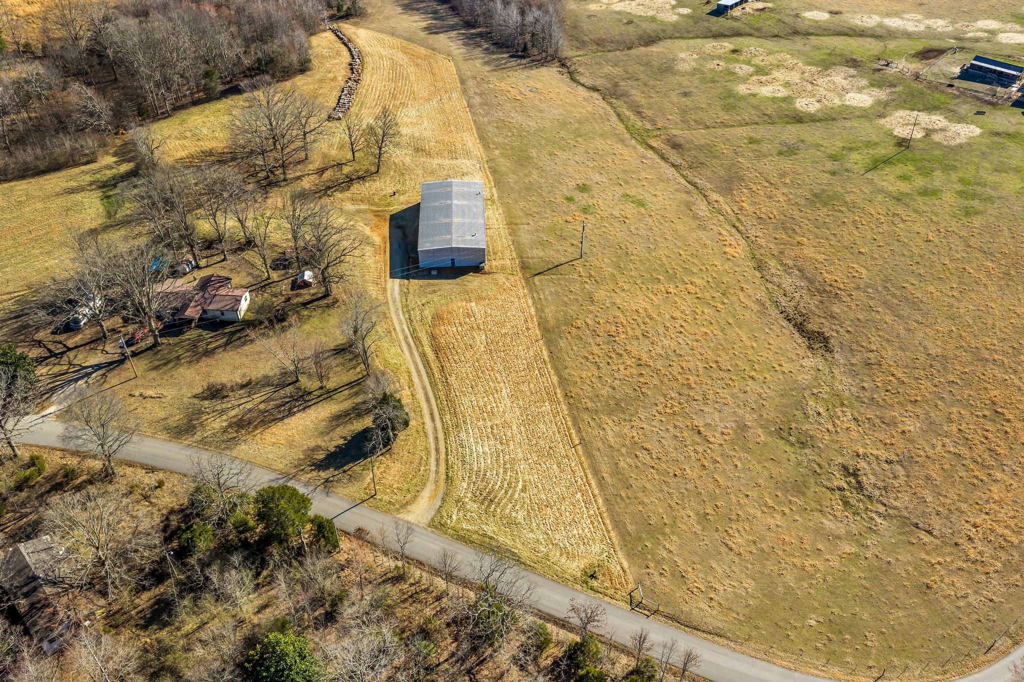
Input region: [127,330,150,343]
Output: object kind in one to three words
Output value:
vehicle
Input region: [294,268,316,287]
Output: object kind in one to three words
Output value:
shed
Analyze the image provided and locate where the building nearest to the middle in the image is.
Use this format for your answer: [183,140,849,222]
[417,179,486,268]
